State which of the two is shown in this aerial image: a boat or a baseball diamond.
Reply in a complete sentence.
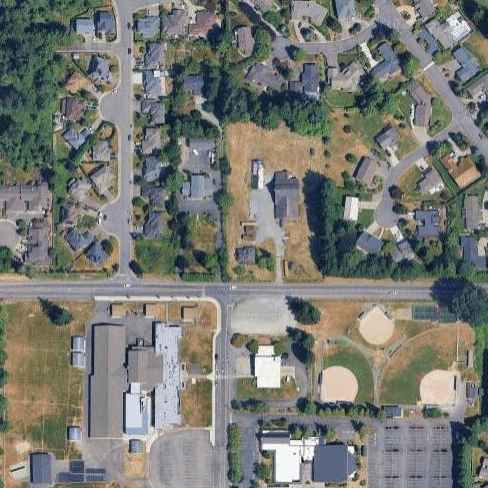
Visible in the photo is a baseball diamond.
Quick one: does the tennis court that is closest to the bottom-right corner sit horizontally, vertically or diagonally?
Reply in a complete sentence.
What the image shows is the tennis court that is closest to the bottom-right corner lying horizontally.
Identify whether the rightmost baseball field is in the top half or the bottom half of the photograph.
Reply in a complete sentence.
The bottom half of the photo is where the rightmost baseball field is.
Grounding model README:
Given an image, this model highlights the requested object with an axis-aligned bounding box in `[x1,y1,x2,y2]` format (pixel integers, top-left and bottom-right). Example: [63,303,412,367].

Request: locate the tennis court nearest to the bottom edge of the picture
[411,305,458,324]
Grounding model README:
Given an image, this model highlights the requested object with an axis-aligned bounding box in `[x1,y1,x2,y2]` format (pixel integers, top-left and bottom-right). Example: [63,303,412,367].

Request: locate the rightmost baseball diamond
[378,357,464,407]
